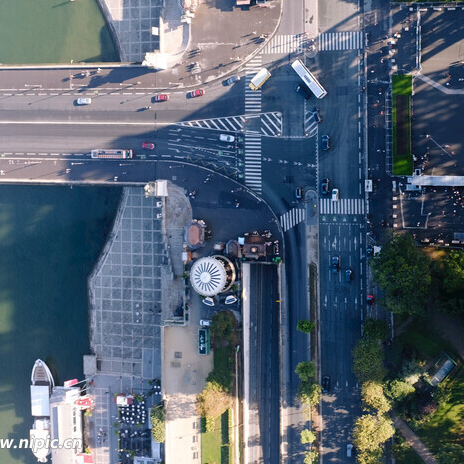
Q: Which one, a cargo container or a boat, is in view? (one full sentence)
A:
There is a boat in the scene.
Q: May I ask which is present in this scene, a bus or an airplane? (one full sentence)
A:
The one in the frame is a bus.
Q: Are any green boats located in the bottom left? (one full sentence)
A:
No, in the bottom left there is no green boat.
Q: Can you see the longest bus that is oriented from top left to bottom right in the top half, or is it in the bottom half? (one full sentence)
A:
The top half of the photo is where the longest bus that is oriented from top left to bottom right is.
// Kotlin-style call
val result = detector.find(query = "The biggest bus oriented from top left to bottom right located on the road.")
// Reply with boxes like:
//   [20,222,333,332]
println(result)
[287,58,325,101]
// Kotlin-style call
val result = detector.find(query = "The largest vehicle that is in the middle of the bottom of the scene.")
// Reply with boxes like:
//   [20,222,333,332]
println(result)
[195,329,208,359]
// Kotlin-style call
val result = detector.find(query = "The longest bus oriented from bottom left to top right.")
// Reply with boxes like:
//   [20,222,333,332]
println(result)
[245,65,268,90]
